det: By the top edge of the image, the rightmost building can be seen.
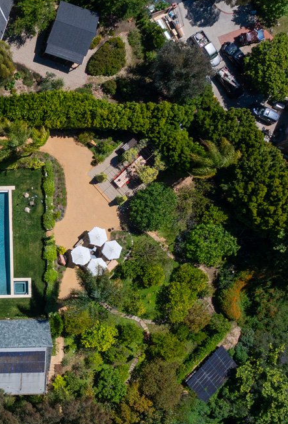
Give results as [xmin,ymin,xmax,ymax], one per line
[43,4,98,64]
